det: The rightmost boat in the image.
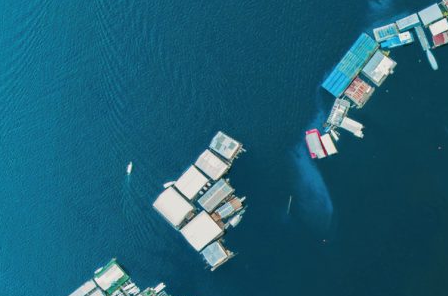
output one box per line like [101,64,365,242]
[425,48,437,70]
